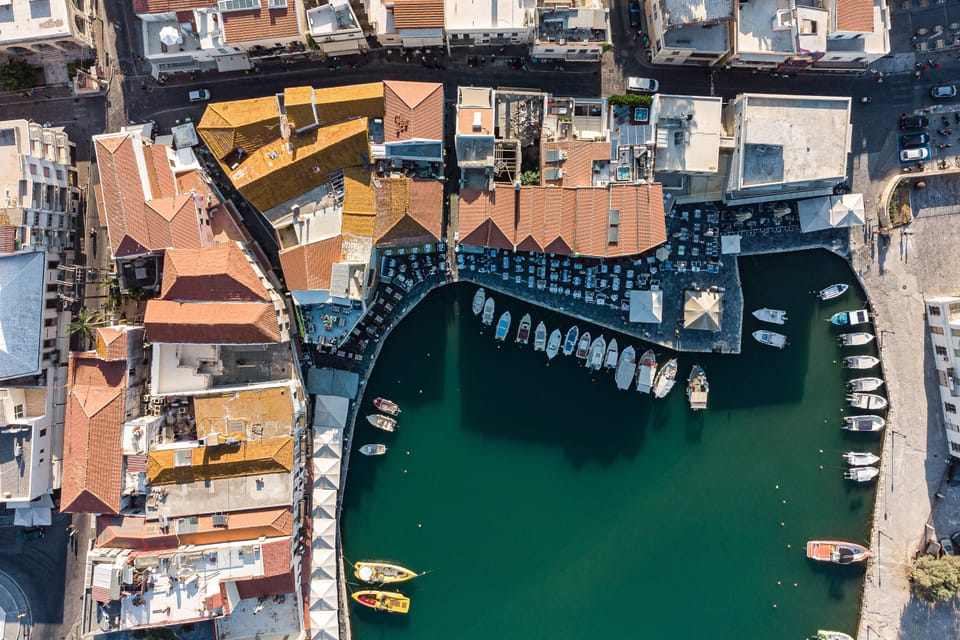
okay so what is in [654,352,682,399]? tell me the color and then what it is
white boat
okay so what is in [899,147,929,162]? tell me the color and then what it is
white car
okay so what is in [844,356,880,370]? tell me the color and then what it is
white boat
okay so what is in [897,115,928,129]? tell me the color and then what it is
black car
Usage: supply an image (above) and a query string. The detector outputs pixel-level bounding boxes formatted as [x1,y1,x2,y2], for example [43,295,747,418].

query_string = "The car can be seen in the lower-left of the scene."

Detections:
[17,528,46,543]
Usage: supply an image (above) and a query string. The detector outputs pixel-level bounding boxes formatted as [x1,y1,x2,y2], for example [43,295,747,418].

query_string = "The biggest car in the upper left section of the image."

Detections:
[186,87,213,103]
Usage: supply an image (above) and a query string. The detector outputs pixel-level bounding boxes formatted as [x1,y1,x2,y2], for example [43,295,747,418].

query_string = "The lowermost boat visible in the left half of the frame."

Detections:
[348,588,410,613]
